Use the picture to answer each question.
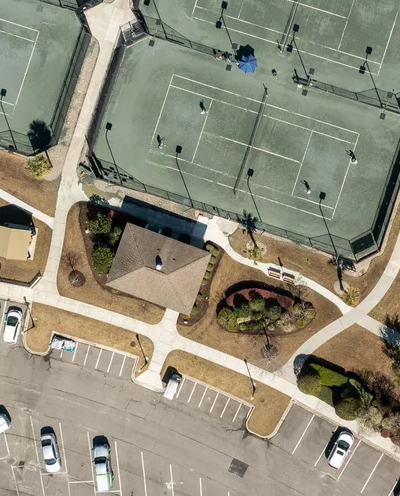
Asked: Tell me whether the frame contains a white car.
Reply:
Yes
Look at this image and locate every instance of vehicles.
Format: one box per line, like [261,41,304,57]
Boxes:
[41,431,62,471]
[327,429,353,470]
[165,371,182,396]
[0,414,11,434]
[92,441,113,492]
[4,306,24,343]
[53,335,67,350]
